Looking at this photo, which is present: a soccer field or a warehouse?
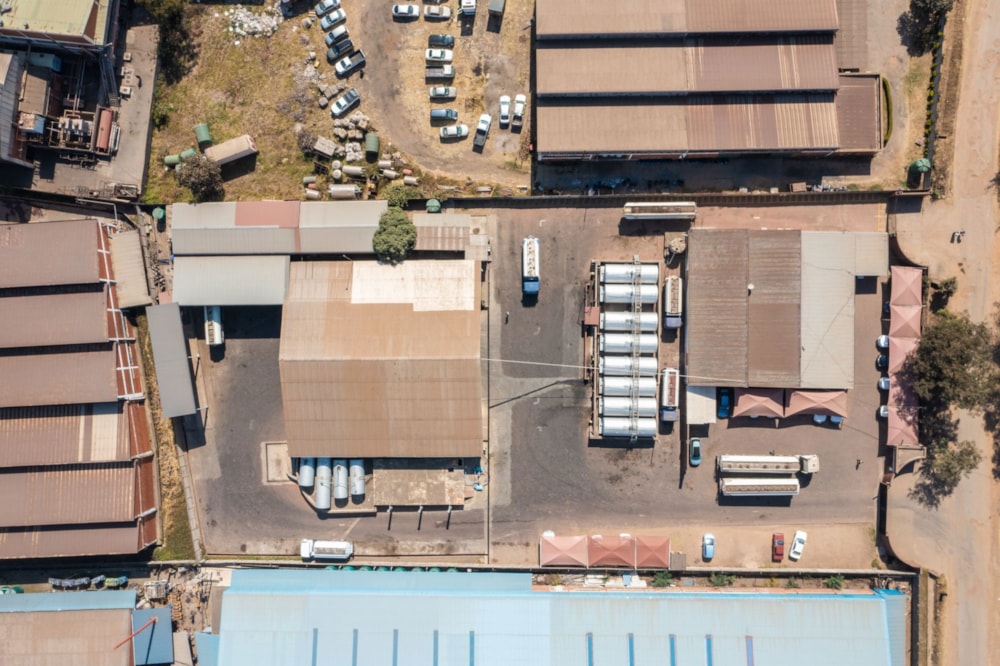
warehouse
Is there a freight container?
Yes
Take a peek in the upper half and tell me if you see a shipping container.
Yes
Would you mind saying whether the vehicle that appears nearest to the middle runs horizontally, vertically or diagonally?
vertically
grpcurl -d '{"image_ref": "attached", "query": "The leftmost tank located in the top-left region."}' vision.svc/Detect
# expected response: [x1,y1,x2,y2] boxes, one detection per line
[95,107,124,157]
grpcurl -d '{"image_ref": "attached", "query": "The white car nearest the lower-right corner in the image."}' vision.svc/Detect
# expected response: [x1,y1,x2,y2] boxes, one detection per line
[788,529,805,560]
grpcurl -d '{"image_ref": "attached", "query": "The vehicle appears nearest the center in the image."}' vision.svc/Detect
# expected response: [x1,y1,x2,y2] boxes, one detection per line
[521,237,541,296]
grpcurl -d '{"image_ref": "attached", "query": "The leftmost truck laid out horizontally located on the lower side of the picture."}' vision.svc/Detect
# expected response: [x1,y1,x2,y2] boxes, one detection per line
[302,537,355,559]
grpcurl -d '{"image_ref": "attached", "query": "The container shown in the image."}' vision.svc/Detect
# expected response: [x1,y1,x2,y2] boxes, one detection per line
[201,131,259,166]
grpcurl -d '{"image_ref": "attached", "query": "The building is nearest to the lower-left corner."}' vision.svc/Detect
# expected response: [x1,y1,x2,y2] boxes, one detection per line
[0,590,143,666]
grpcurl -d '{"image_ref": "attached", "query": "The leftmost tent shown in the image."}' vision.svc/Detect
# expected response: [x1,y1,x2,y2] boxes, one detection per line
[539,530,588,567]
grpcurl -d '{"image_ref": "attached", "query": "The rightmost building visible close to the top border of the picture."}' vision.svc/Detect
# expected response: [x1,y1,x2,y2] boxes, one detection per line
[535,0,885,161]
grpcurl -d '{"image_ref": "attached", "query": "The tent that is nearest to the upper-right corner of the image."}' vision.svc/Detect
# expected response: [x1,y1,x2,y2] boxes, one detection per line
[889,266,923,306]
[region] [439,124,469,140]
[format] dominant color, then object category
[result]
white car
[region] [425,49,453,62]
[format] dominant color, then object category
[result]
white vehicle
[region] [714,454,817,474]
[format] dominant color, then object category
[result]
white vehicle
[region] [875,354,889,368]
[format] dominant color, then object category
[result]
black vehicle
